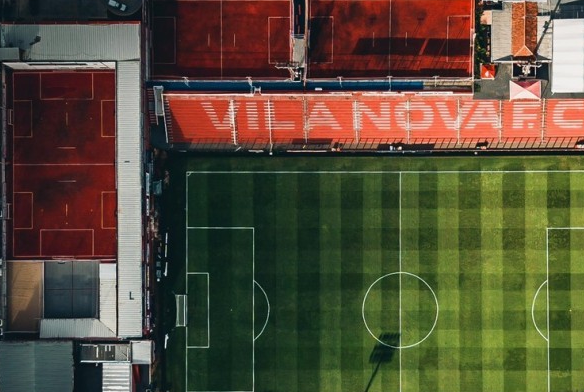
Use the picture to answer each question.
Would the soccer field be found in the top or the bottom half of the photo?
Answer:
bottom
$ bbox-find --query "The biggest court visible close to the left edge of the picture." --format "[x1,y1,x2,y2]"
[9,65,117,258]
